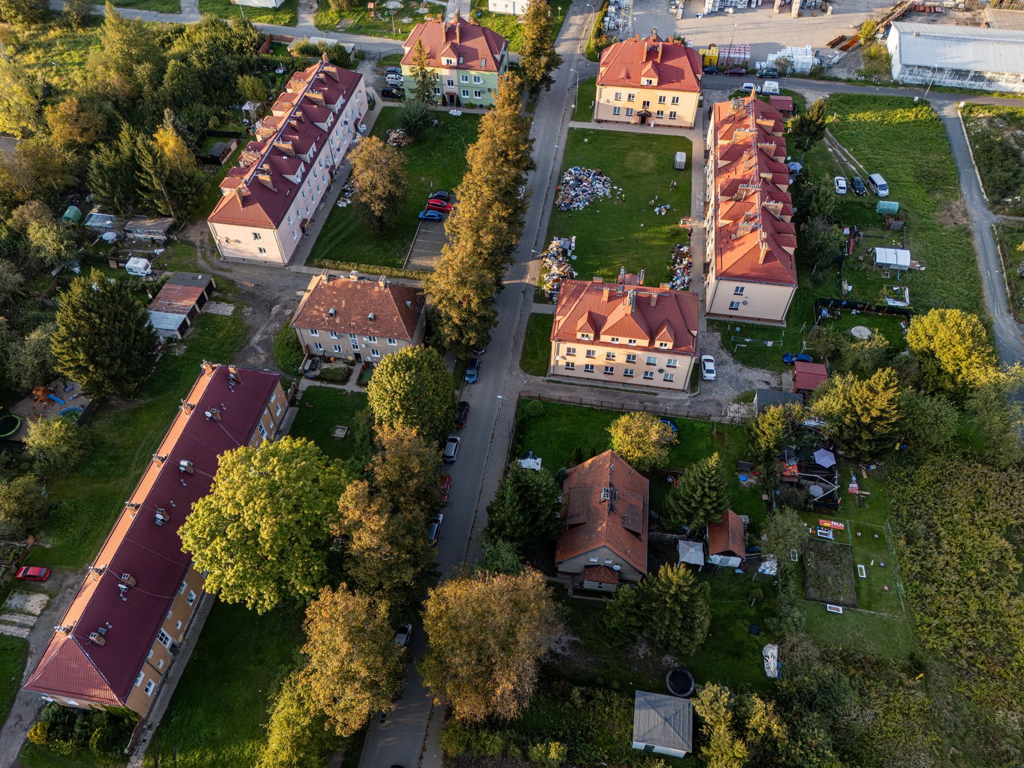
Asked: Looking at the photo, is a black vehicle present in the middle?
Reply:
Yes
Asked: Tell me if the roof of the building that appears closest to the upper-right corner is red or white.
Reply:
white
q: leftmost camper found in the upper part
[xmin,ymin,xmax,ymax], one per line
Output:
[121,255,158,276]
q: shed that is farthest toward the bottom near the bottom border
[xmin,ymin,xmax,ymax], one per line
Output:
[631,688,693,760]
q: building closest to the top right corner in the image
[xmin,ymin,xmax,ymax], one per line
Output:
[885,28,1024,94]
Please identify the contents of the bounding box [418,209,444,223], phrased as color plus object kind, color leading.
blue car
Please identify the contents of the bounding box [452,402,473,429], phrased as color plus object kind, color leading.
black car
